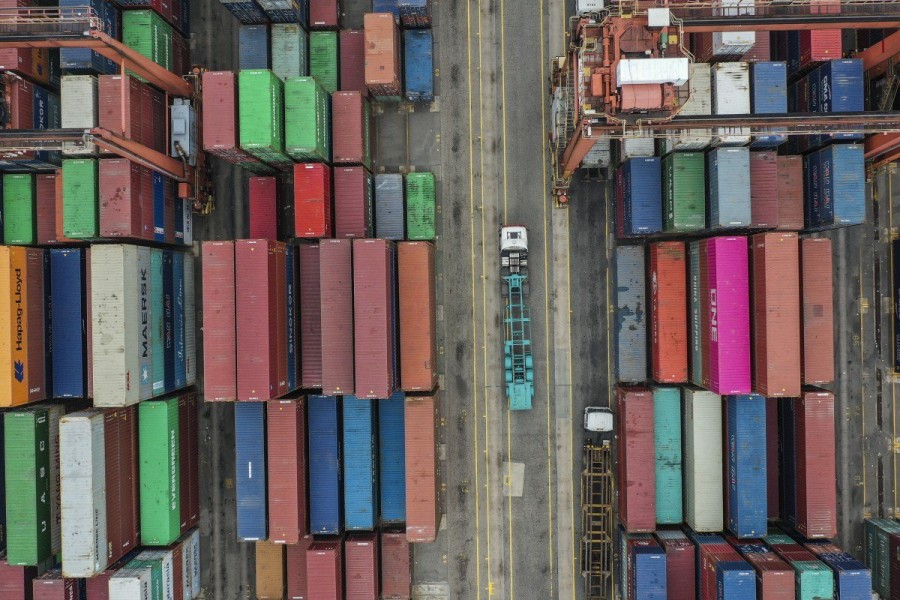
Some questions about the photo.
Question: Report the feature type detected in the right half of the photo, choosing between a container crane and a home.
container crane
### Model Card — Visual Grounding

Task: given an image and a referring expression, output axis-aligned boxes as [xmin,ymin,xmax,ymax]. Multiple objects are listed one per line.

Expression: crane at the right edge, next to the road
[545,0,900,211]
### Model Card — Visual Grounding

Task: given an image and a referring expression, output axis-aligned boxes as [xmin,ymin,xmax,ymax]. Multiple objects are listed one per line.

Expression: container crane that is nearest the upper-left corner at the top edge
[0,11,211,217]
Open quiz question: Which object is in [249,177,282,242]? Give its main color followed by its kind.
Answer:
red shipping container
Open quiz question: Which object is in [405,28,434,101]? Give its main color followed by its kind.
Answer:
blue shipping container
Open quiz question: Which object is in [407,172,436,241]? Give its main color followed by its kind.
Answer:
green shipping container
